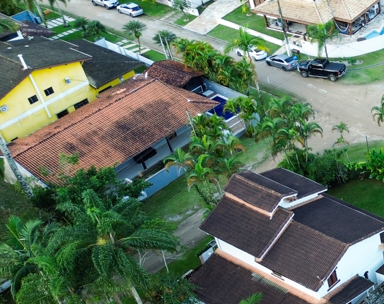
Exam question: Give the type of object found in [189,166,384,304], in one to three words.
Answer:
house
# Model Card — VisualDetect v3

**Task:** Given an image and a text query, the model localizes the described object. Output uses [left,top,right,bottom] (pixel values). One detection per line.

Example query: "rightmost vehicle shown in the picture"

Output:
[295,58,348,81]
